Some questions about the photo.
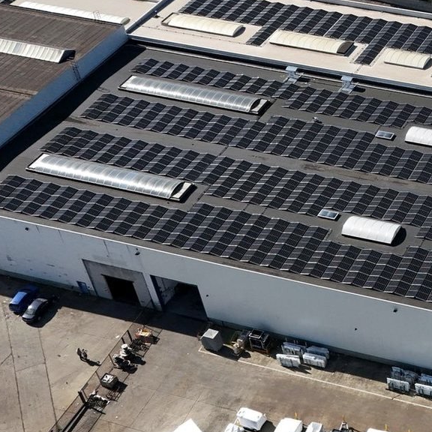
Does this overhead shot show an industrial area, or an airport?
industrial area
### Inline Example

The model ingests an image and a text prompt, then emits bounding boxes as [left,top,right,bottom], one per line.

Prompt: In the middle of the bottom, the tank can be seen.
[199,328,227,357]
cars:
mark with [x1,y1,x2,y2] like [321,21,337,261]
[15,293,55,327]
[1,282,41,315]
